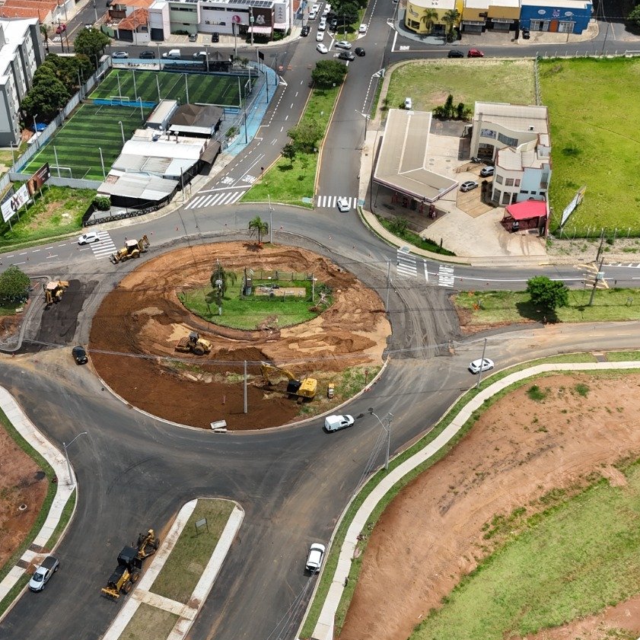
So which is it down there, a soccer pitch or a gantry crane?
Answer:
soccer pitch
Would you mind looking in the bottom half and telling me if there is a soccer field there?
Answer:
No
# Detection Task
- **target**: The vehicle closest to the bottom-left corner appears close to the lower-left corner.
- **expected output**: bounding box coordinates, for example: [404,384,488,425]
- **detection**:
[23,553,64,592]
